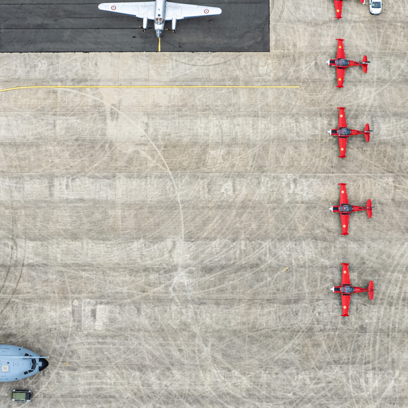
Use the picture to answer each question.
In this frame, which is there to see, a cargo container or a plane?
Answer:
plane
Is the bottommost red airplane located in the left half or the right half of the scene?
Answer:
right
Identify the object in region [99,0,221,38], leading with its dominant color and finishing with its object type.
white airplane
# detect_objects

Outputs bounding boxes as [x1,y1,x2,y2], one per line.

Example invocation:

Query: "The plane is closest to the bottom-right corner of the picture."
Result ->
[330,263,375,317]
